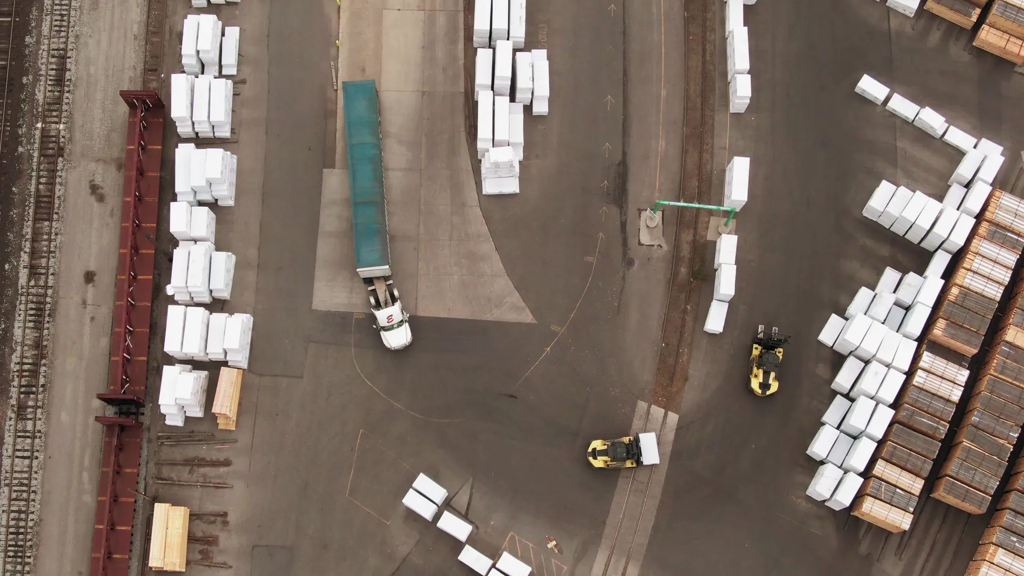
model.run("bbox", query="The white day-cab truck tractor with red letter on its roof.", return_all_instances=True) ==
[360,276,412,355]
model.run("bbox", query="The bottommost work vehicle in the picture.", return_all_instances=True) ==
[586,432,645,468]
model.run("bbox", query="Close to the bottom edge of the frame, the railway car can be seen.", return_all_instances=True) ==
[94,415,144,576]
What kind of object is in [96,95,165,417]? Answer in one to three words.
rail car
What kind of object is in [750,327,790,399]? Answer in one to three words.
work vehicle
